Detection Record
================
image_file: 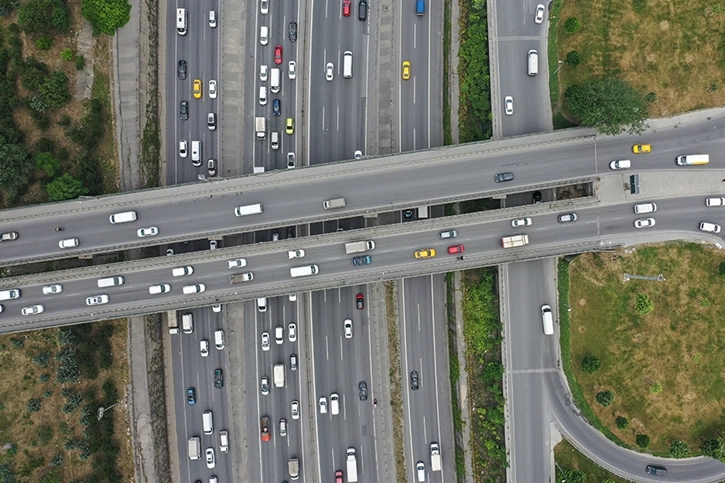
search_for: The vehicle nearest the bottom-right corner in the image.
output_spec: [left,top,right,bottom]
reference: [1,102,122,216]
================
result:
[644,464,668,477]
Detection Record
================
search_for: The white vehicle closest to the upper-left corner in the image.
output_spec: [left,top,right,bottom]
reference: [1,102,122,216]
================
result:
[176,8,190,38]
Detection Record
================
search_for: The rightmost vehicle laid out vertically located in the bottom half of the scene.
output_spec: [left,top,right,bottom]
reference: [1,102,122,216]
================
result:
[538,303,555,335]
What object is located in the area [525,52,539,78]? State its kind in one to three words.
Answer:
vehicle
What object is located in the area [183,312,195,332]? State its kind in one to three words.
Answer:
vehicle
